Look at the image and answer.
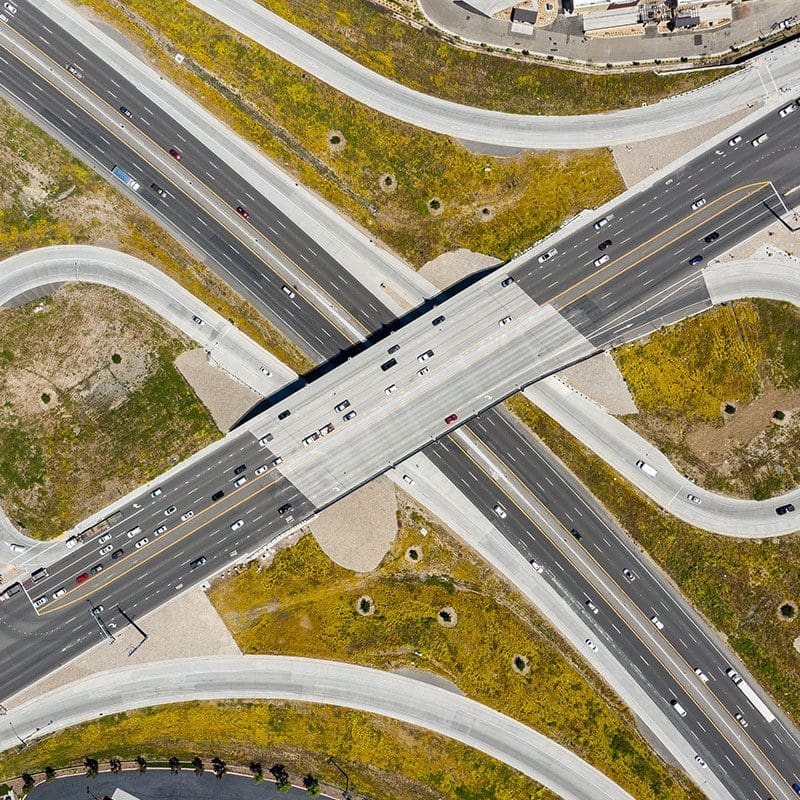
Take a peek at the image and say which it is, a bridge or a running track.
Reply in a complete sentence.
Of the two, only a bridge appears.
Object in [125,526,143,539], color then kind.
white vehicle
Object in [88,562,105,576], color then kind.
gray vehicle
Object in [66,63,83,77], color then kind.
gray vehicle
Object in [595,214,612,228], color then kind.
white vehicle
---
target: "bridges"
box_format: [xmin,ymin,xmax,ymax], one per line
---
[240,264,607,515]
